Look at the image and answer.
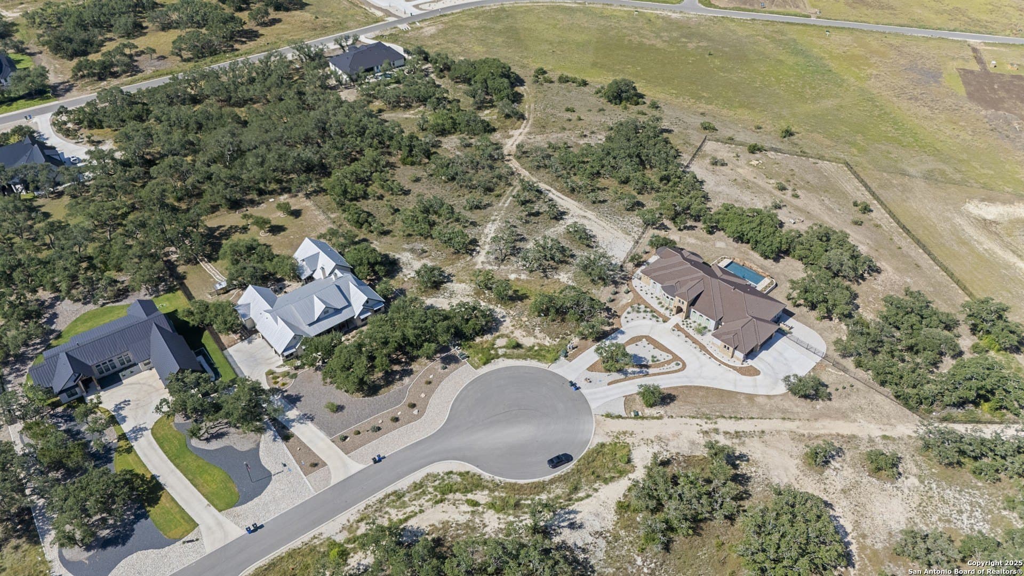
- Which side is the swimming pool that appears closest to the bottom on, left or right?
right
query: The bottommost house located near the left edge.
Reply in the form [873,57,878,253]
[27,300,203,403]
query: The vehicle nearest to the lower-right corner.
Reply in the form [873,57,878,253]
[547,450,574,468]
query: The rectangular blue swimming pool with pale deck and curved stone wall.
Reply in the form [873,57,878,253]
[707,254,778,293]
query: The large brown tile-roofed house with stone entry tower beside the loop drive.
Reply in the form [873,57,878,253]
[640,246,789,366]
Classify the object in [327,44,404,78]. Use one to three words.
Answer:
house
